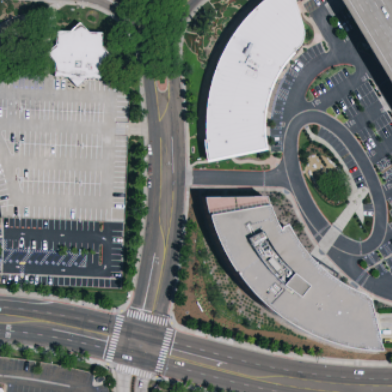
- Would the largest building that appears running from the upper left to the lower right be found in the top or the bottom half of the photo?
bottom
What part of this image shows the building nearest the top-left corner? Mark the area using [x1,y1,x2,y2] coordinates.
[51,26,108,86]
